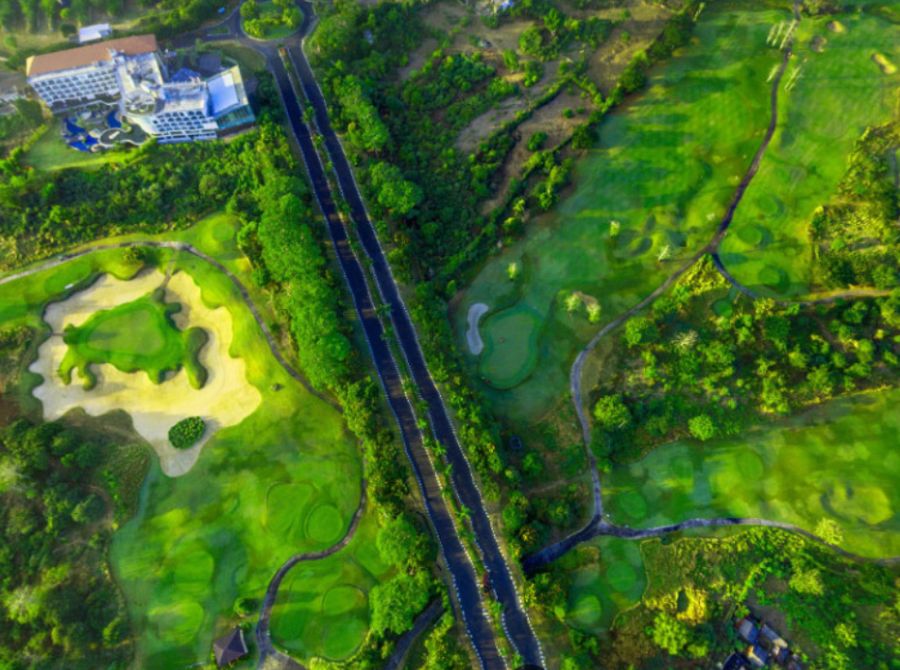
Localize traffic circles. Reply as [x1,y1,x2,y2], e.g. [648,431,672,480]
[230,0,314,45]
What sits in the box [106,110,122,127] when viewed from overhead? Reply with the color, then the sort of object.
blue swimming pool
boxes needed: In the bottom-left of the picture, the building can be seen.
[209,623,250,670]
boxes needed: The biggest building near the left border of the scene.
[27,35,265,148]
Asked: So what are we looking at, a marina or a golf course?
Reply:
golf course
